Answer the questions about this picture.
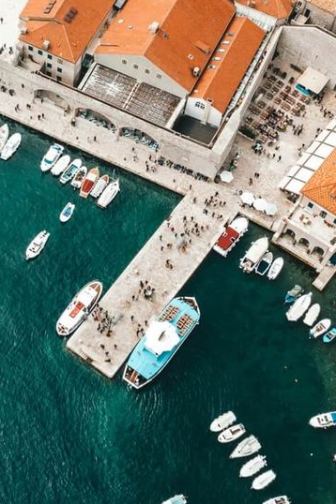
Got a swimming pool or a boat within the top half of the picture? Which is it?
boat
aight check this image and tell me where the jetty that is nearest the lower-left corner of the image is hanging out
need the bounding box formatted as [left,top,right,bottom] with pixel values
[65,195,238,380]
